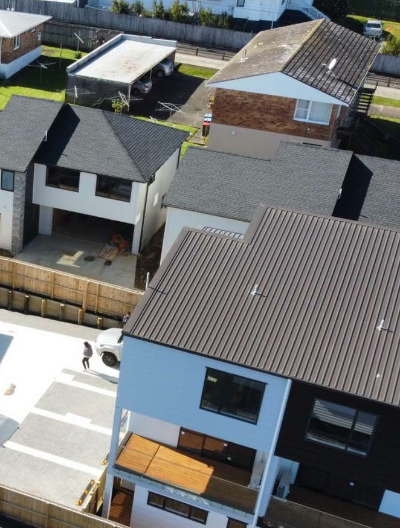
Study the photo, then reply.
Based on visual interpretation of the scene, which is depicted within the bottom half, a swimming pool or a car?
car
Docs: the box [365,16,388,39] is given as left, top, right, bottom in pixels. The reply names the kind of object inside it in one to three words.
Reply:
car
